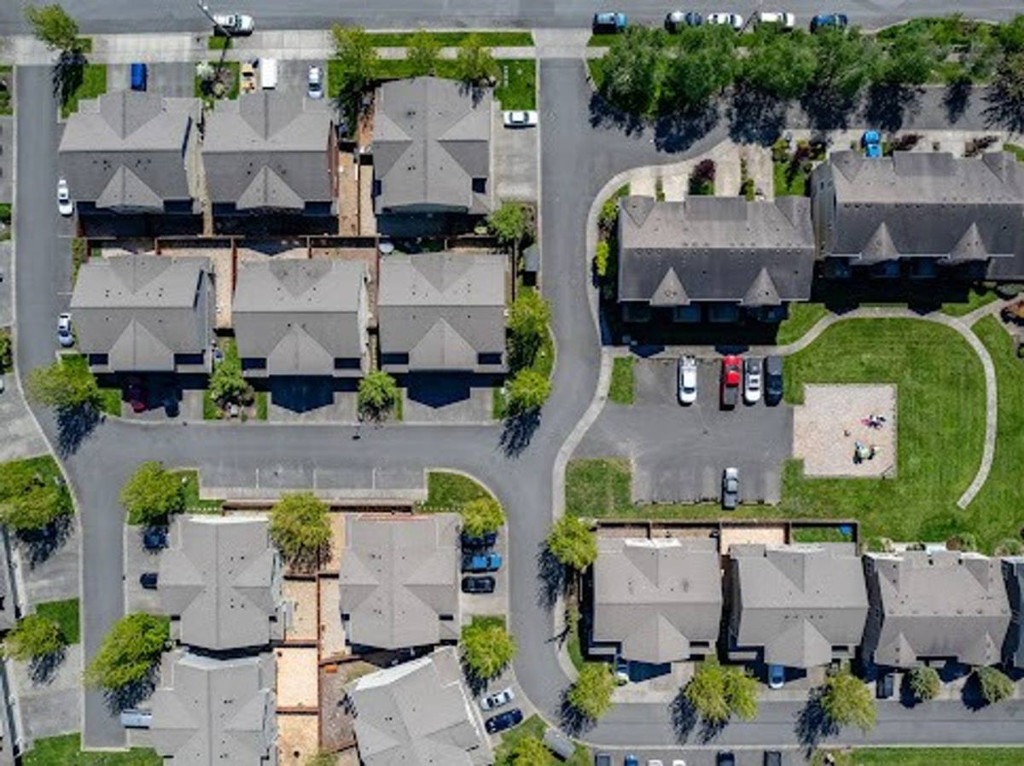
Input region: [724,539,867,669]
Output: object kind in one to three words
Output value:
house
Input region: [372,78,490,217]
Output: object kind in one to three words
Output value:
house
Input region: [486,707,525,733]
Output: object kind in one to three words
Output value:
car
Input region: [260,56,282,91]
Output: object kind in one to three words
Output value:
trailer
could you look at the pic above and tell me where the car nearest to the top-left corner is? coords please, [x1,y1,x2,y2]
[128,58,149,93]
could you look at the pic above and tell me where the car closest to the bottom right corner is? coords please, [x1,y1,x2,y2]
[877,668,893,700]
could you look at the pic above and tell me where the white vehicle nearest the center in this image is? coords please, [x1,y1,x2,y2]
[677,359,698,402]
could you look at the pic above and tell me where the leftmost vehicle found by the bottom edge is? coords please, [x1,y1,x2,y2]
[121,709,153,728]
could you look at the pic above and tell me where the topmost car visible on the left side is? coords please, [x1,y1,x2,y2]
[213,13,253,33]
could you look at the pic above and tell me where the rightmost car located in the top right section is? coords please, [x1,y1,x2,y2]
[862,128,880,157]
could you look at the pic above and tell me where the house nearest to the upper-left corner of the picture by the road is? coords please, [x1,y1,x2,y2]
[58,89,209,220]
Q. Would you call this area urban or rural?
urban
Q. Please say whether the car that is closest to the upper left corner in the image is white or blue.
blue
